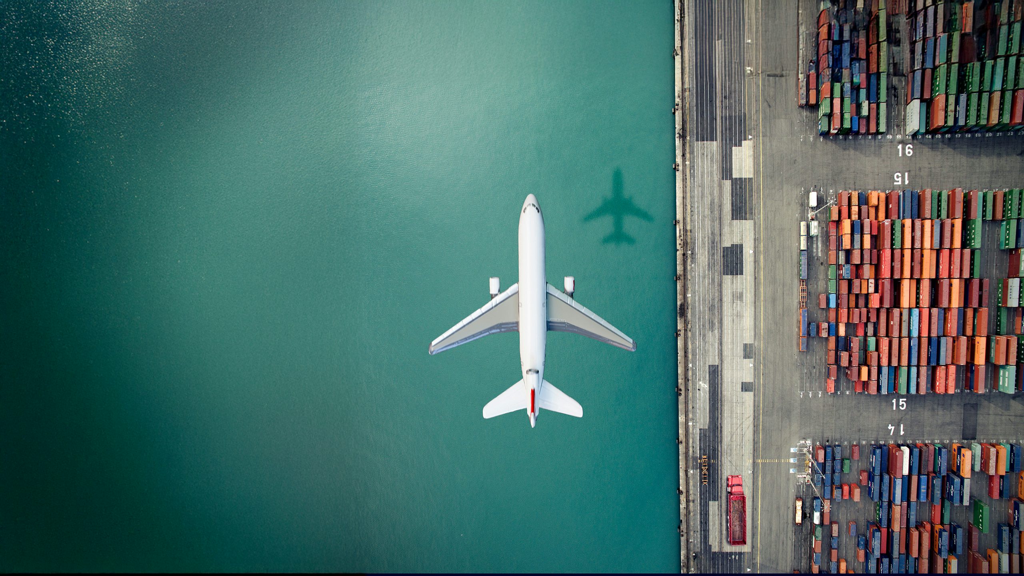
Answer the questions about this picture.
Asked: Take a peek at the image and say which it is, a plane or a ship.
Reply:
plane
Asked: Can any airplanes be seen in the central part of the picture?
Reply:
Yes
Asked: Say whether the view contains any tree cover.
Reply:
No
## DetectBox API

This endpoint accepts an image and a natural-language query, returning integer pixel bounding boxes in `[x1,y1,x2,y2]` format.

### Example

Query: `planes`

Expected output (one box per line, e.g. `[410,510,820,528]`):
[426,191,633,431]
